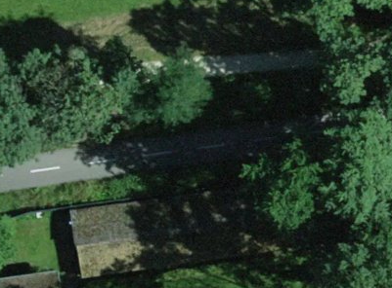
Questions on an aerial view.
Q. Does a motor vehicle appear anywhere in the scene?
No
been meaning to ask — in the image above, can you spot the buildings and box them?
[0,271,61,288]
[70,188,284,282]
